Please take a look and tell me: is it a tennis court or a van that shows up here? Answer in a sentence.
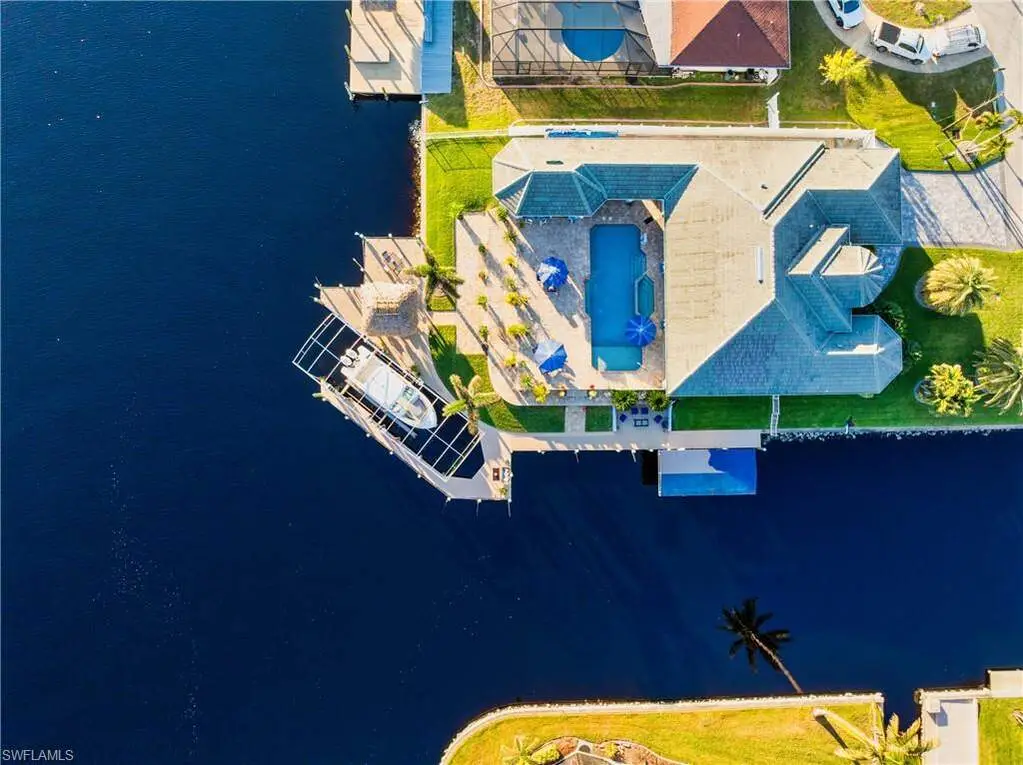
Looking from above, you can make out a van.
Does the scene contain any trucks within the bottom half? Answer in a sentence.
No, within the bottom half there is no truck.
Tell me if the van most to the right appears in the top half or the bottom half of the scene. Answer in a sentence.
The top half of the photo is where the van most to the right is.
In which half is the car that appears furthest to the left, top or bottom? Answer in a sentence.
It is in the top half that the car that appears furthest to the left appears.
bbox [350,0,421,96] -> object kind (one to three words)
pier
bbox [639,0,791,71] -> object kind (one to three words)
house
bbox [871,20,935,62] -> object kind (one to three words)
truck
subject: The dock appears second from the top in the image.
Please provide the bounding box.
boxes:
[319,238,421,366]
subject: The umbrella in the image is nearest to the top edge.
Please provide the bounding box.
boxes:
[536,259,568,290]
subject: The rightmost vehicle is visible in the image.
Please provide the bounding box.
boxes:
[931,21,989,57]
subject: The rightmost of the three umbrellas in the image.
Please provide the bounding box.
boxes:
[623,315,655,347]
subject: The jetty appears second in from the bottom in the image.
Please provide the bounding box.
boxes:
[321,382,511,499]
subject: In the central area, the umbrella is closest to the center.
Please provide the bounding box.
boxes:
[533,340,565,372]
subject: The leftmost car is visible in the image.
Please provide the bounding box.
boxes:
[832,0,863,30]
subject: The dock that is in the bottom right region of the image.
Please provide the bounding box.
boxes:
[985,666,1023,696]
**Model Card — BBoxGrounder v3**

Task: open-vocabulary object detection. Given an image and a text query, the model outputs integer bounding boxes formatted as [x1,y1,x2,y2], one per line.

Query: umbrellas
[623,315,655,347]
[533,340,565,372]
[536,259,568,290]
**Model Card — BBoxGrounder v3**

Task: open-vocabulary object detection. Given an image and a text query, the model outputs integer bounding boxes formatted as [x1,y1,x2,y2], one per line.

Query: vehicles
[871,20,935,62]
[832,0,863,30]
[931,21,989,57]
